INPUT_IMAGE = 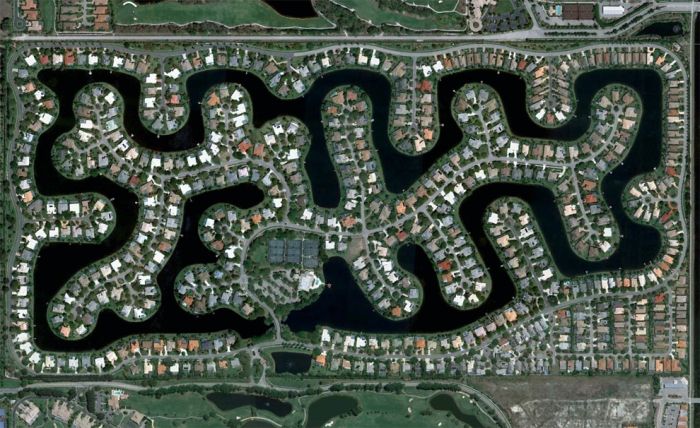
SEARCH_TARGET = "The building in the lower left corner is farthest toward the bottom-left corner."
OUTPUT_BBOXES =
[15,399,40,425]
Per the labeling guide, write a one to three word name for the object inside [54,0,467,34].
golf course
